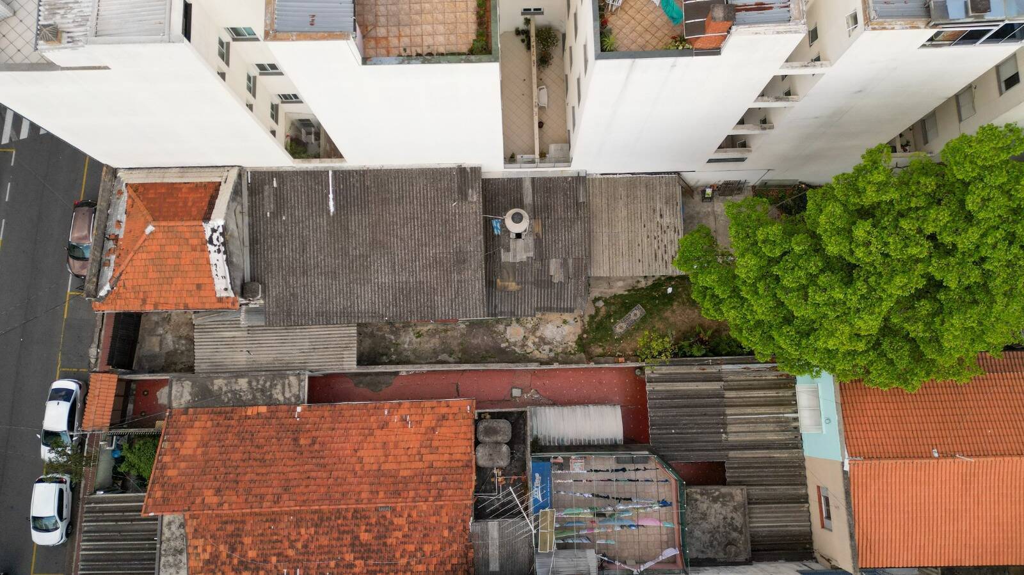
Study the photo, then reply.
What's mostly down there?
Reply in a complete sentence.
What you mostly see from above here is buildings.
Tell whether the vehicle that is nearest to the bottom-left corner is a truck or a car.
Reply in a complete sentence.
The vehicle that is nearest to the bottom-left corner in the image is a car.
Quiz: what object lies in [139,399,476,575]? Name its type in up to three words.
house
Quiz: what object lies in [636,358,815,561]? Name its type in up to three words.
shed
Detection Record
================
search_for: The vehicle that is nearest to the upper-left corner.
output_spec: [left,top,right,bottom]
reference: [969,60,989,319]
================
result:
[61,202,97,277]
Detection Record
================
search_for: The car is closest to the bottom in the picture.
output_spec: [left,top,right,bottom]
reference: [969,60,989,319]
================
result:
[26,473,79,547]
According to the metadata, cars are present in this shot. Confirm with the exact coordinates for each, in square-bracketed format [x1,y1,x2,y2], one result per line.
[26,473,79,547]
[61,202,97,277]
[36,378,92,463]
